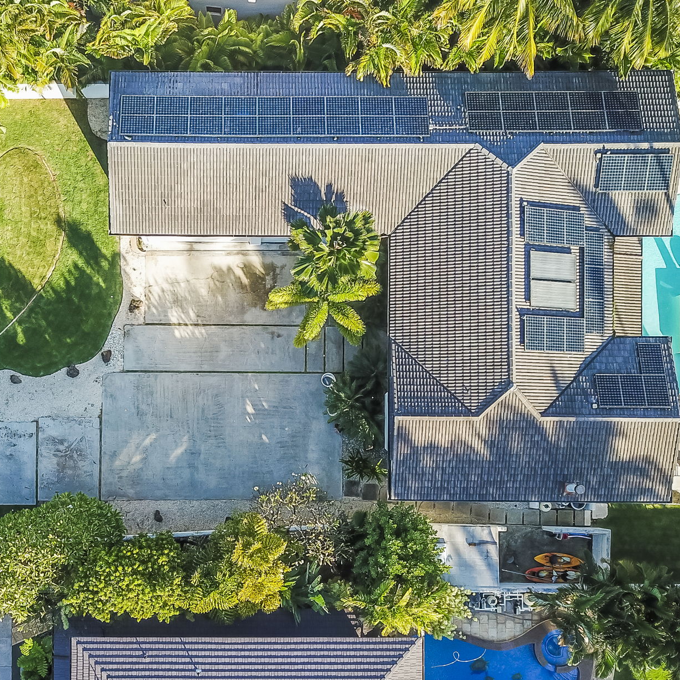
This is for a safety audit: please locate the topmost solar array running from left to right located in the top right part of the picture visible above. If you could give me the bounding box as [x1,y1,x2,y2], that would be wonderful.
[465,91,644,131]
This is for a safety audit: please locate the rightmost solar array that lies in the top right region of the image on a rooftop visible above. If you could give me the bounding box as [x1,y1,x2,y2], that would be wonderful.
[598,155,676,191]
